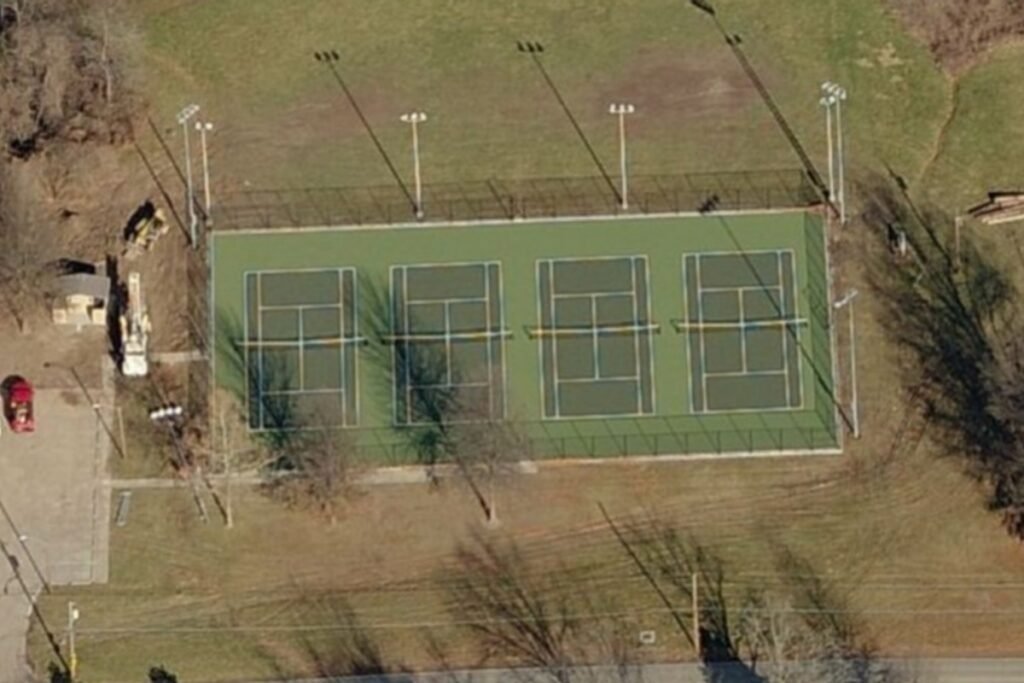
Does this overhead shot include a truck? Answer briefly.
Yes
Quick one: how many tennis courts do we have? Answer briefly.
four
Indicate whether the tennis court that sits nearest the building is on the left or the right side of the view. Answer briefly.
left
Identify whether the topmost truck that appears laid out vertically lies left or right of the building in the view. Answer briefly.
on its right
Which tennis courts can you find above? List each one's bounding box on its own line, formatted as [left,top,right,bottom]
[383,262,513,425]
[678,250,807,412]
[236,268,366,431]
[530,256,660,418]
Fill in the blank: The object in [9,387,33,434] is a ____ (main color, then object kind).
red truck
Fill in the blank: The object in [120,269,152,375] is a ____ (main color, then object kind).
white truck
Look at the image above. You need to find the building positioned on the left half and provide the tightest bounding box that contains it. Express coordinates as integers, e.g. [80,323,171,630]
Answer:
[52,273,108,335]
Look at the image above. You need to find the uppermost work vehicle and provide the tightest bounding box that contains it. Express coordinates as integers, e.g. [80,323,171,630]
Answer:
[130,212,171,252]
